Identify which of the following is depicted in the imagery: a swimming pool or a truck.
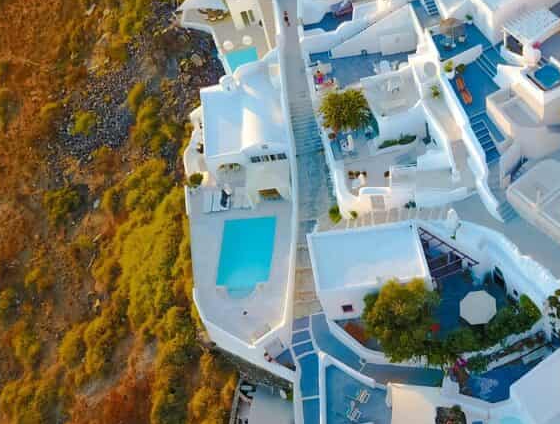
swimming pool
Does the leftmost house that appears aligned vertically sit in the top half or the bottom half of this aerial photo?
top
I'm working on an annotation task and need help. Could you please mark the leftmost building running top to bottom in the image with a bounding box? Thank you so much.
[200,87,247,174]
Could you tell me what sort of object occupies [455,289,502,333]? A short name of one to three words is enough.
umbrella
